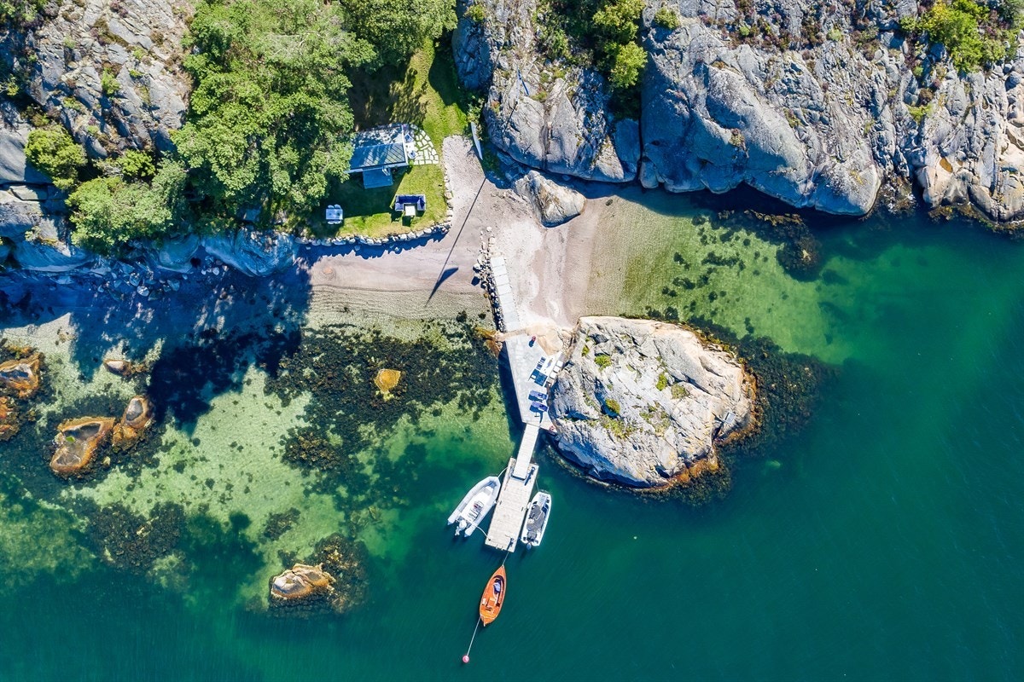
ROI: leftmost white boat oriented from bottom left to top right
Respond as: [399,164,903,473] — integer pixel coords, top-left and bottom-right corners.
[445,478,498,541]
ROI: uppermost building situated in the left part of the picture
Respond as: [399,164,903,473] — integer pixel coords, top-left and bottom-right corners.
[344,126,409,176]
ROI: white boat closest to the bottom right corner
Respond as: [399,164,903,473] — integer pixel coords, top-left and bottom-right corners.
[518,491,551,552]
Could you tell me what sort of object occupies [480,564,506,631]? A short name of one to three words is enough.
boat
